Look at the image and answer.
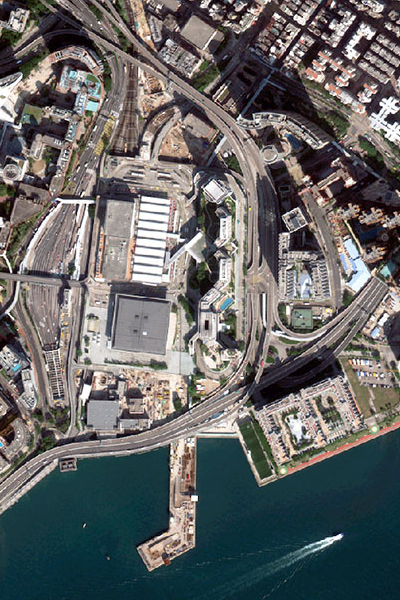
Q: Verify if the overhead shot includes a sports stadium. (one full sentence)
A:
Yes, the frame does contain a sports stadium.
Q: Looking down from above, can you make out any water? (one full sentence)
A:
Yes, water shows up in the scene.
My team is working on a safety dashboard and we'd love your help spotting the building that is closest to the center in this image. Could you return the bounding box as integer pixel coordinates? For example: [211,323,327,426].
[199,288,224,312]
